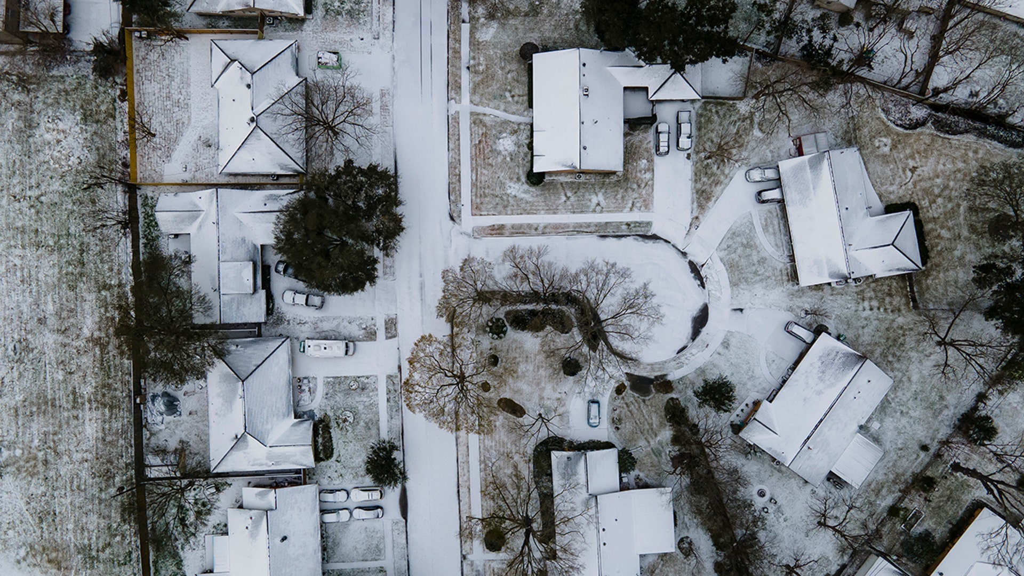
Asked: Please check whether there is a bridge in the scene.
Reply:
No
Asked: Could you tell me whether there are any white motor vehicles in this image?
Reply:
Yes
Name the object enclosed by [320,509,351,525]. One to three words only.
car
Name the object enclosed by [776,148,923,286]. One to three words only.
house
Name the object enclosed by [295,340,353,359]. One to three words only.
camper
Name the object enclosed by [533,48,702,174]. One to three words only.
house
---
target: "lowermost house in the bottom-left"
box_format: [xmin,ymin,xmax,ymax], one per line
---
[198,481,325,576]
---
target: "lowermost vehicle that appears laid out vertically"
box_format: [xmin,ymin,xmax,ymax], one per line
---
[587,399,602,430]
